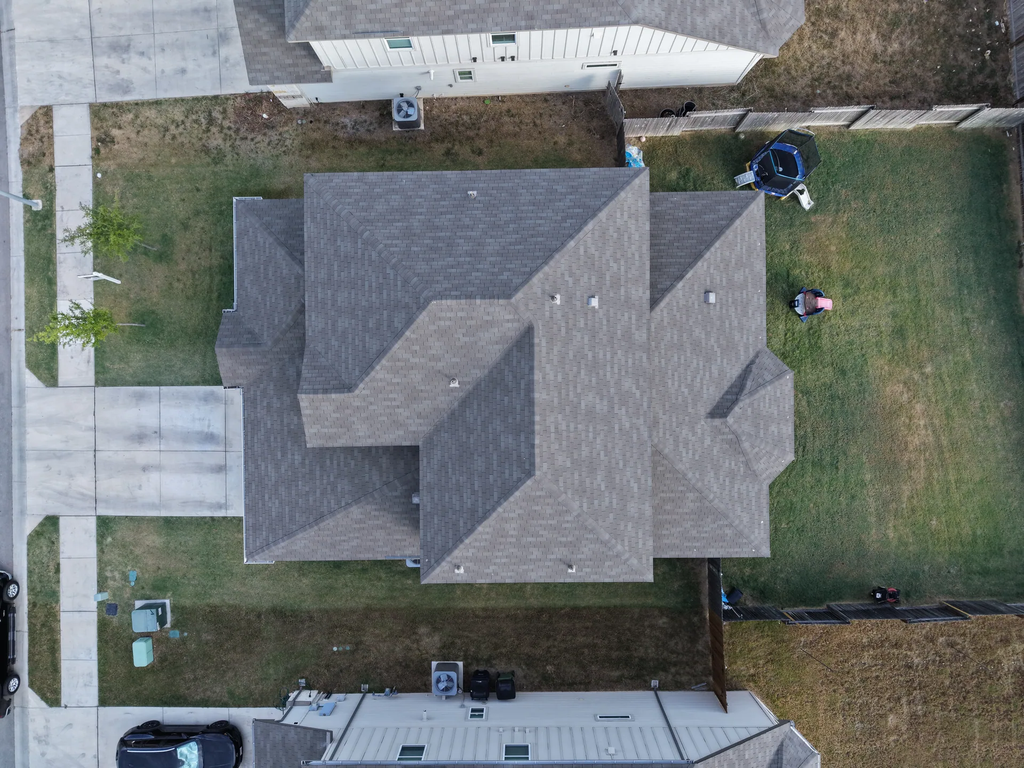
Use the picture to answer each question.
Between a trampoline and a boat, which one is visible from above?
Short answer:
trampoline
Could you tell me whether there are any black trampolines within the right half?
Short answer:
Yes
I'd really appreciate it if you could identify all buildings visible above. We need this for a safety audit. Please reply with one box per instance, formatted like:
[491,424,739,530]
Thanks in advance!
[233,0,802,106]
[213,167,795,585]
[249,682,825,768]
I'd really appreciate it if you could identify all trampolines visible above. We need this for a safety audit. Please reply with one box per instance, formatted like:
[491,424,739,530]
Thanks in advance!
[731,125,822,220]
